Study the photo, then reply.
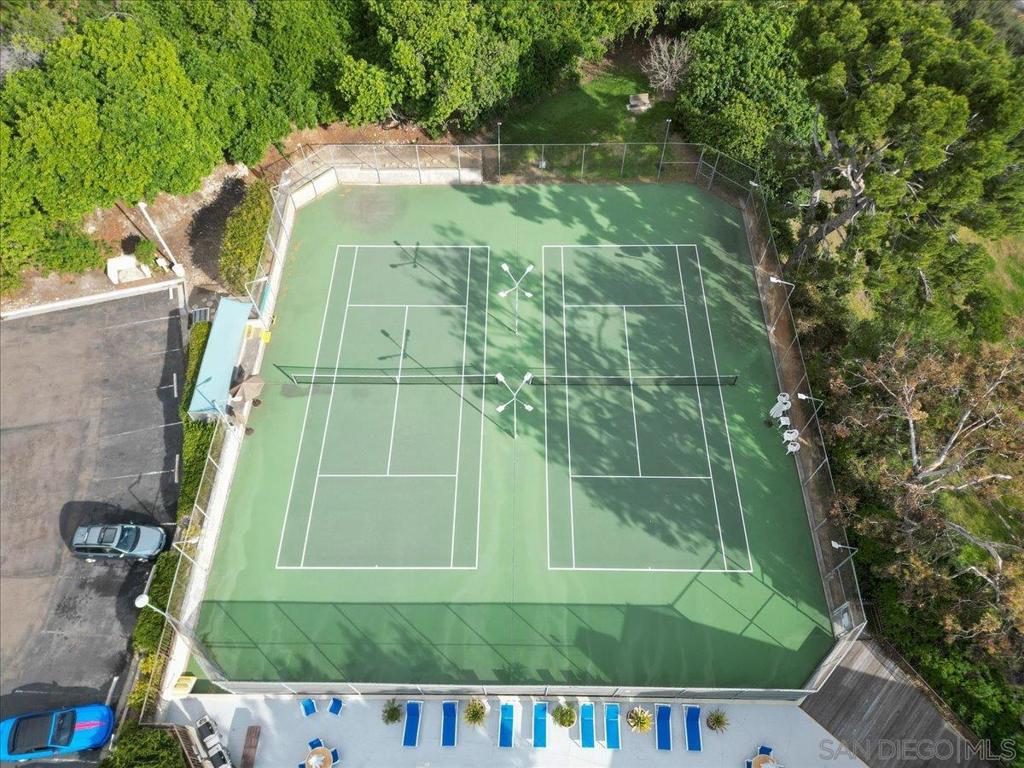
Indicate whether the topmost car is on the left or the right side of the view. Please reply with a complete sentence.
The topmost car appears in the left half of the scene.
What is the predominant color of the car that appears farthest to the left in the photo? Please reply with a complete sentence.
The car that appears farthest to the left is blue.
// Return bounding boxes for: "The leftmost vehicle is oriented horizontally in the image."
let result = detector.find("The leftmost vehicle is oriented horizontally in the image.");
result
[0,705,115,767]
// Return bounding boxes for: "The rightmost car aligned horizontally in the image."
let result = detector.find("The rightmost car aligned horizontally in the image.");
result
[68,521,165,563]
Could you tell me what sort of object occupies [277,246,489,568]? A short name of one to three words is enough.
tennis court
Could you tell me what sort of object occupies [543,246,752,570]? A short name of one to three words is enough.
tennis court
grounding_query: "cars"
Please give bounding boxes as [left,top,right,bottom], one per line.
[68,521,165,563]
[0,705,115,767]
